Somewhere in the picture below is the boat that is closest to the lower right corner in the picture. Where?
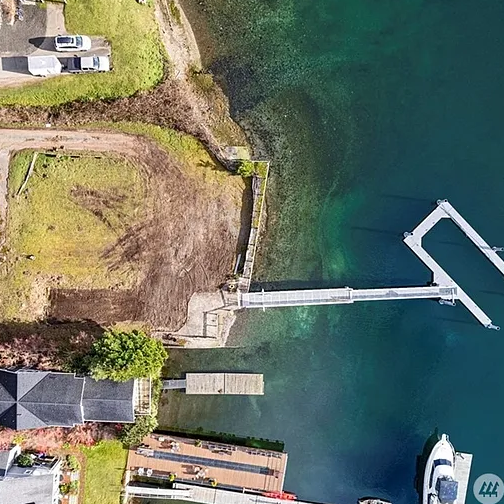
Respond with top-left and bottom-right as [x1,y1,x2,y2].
[420,430,459,504]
